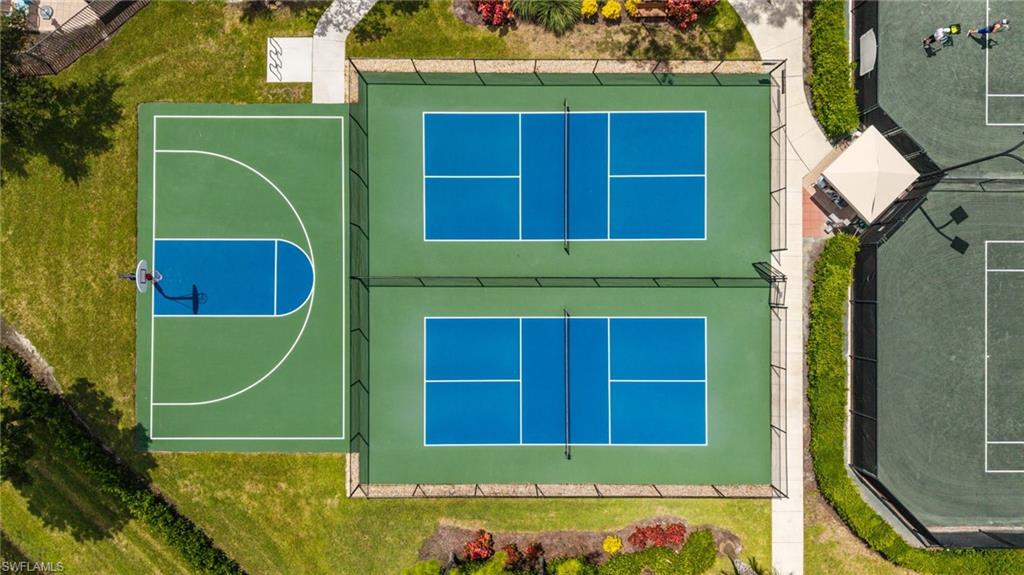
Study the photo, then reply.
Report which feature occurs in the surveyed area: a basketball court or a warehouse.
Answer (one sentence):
Of the two, only a basketball court appears.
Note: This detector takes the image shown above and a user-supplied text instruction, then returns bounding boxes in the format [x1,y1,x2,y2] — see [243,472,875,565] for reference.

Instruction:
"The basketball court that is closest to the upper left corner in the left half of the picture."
[136,104,359,453]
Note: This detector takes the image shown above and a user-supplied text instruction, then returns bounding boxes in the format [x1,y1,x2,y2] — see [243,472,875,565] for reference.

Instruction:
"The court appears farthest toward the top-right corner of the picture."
[878,0,1024,176]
